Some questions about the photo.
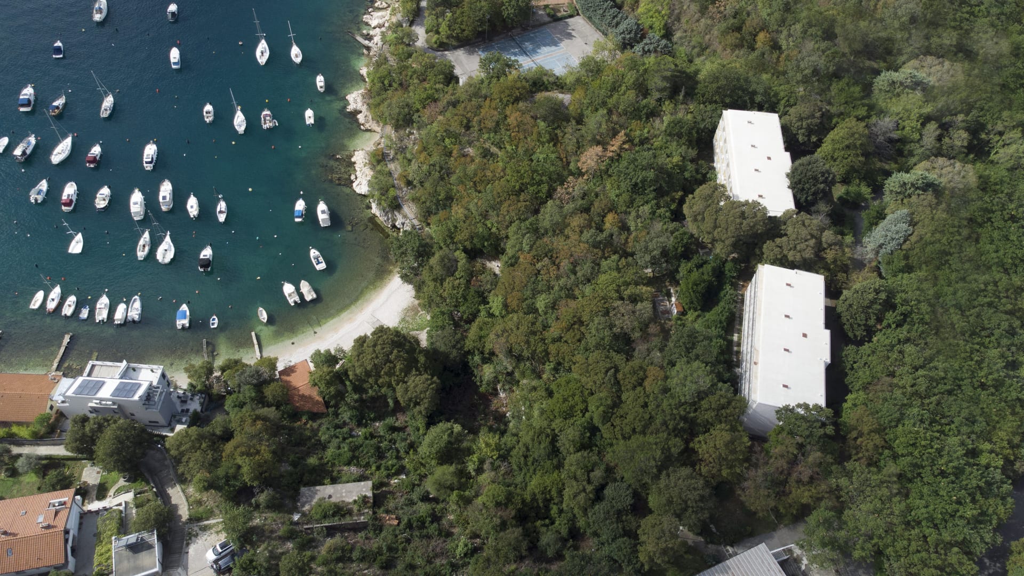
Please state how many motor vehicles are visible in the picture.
two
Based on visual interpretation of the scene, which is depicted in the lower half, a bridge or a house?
house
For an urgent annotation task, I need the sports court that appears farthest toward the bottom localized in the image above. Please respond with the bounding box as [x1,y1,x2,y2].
[446,17,603,85]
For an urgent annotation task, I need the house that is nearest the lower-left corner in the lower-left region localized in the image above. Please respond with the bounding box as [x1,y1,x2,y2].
[0,489,91,576]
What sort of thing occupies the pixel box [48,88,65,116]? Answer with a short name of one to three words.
boat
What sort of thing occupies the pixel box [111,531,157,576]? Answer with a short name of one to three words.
building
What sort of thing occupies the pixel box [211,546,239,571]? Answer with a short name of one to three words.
car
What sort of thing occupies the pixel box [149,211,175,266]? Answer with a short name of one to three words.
boat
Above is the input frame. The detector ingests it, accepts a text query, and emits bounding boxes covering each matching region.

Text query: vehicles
[211,546,239,571]
[206,535,239,558]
